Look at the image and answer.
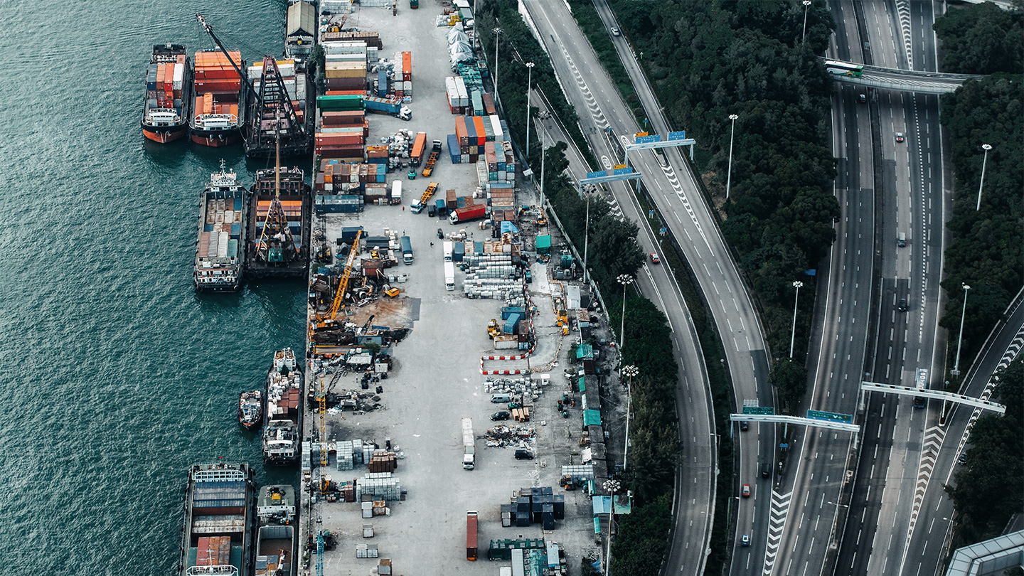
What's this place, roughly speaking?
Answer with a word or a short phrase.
port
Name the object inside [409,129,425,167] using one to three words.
vehicle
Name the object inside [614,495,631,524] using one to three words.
shed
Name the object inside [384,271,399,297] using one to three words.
work vehicle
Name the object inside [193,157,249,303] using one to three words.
ship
